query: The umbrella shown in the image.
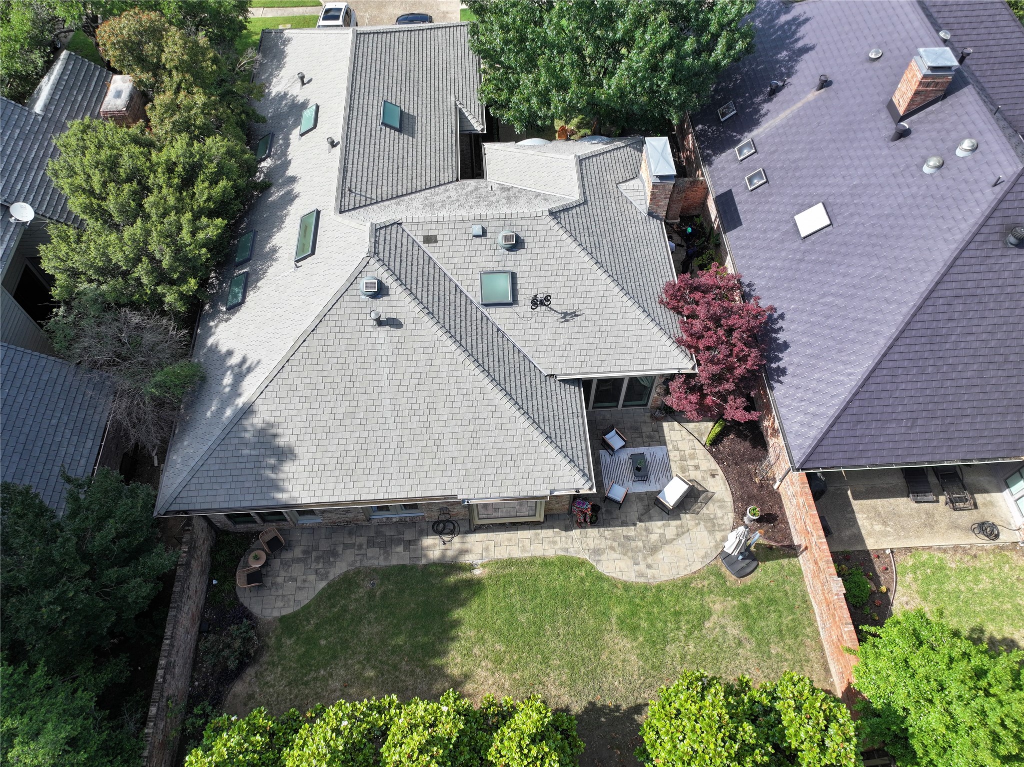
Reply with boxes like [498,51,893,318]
[719,525,764,579]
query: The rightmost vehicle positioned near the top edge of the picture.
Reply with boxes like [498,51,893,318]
[400,7,435,29]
